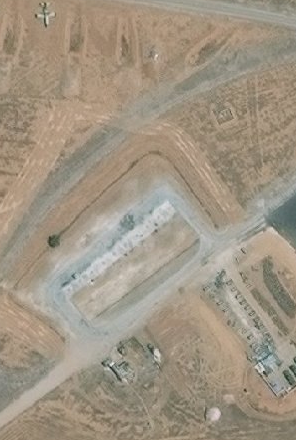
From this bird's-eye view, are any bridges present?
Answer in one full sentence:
No, there appears to be no bridge in this shot.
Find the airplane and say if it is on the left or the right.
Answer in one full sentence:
It is on the left.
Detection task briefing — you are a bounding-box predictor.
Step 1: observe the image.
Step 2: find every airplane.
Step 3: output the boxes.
[36,2,56,26]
